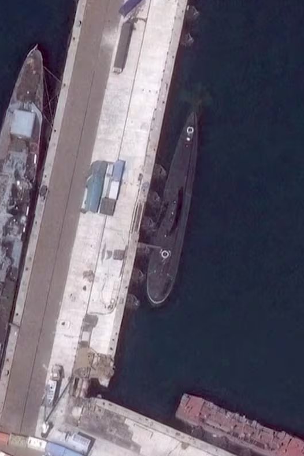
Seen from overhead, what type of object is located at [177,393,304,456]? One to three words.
ship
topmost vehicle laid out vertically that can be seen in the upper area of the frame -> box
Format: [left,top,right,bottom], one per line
[114,22,132,79]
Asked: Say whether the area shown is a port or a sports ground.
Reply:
port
